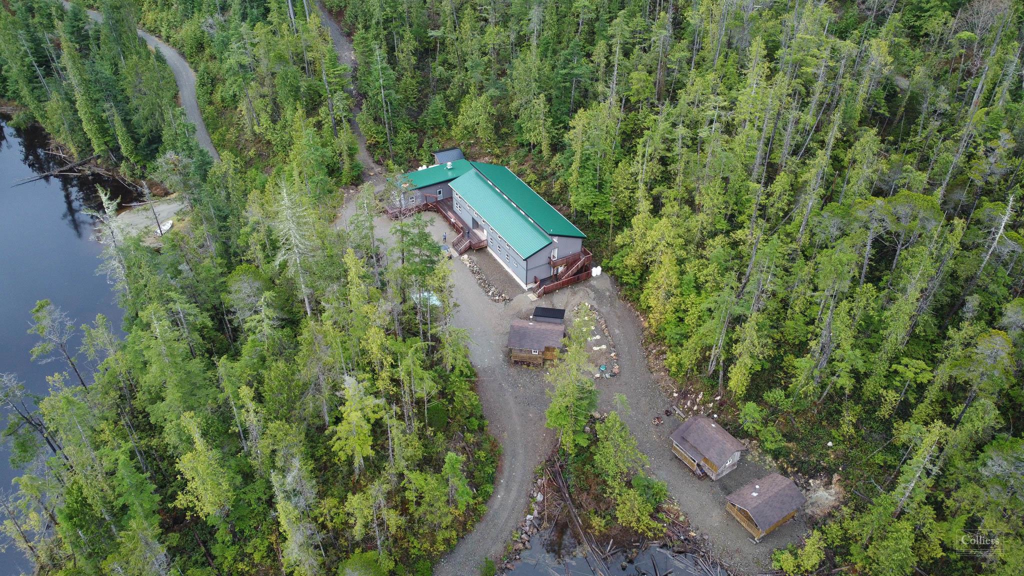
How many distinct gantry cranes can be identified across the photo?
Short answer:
0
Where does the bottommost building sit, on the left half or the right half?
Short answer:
right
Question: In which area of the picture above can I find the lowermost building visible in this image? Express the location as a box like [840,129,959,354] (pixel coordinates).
[724,471,808,555]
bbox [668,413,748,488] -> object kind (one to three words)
building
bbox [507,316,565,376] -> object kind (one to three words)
building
